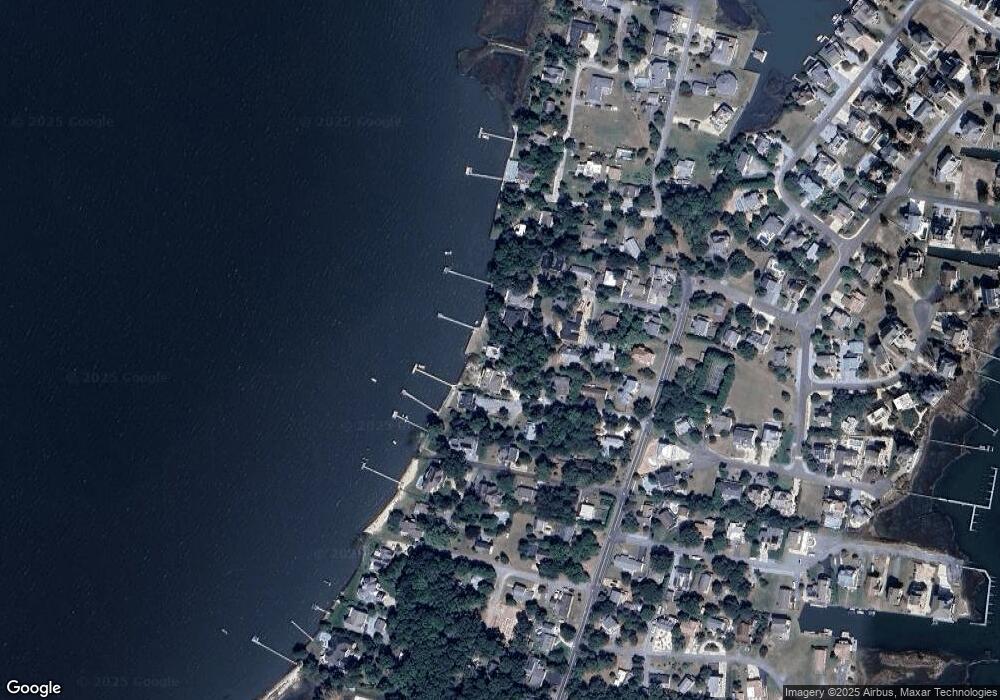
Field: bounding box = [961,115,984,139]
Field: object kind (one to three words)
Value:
house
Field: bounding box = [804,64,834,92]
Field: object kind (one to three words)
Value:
house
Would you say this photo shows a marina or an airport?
marina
